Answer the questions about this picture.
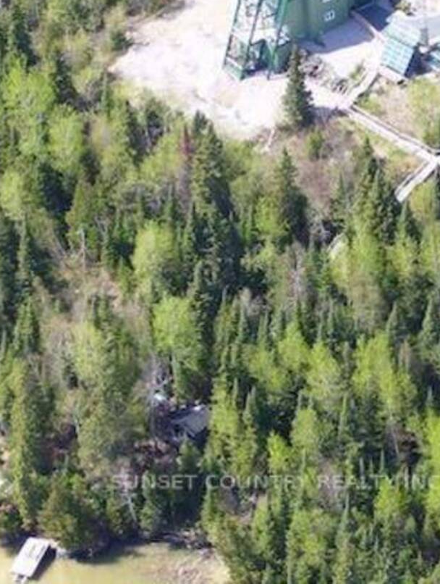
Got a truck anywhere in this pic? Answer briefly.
No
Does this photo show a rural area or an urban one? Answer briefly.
rural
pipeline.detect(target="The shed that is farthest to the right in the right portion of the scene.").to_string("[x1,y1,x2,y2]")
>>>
[379,14,430,75]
